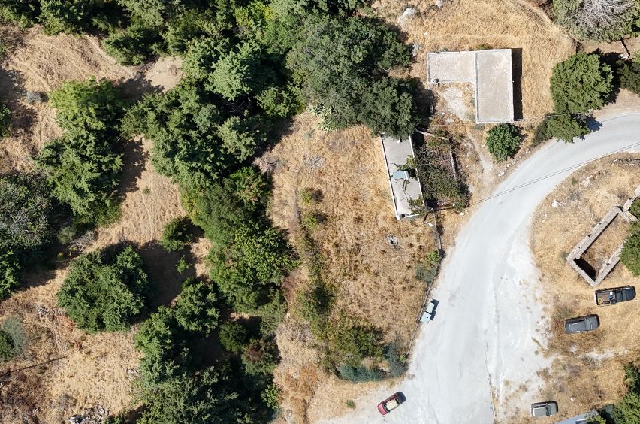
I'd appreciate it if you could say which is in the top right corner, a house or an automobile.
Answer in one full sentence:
It is a house that can be seen in the top right corner.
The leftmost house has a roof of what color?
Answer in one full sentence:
From above, the roof of the leftmost house looks white.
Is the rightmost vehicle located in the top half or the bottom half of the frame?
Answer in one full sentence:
It is in the bottom half that the rightmost vehicle appears.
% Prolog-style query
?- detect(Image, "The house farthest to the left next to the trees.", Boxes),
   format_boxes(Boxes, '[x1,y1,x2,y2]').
[382,133,425,221]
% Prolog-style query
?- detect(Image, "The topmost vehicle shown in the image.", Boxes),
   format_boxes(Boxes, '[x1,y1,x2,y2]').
[593,285,634,305]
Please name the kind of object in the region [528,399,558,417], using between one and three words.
car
